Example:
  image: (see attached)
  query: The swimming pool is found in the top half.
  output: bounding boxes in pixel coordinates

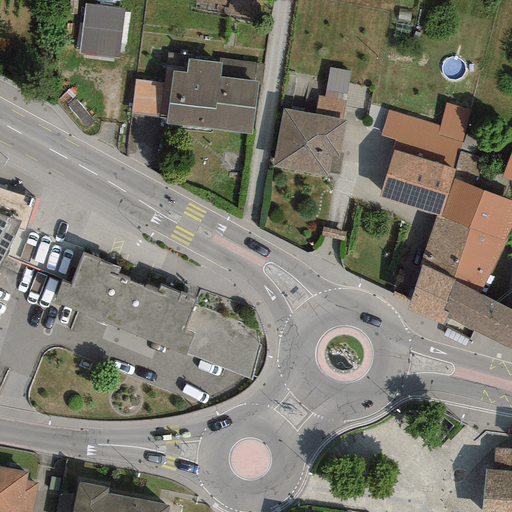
[442,51,467,80]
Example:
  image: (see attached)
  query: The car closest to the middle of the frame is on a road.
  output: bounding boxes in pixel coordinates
[245,238,269,254]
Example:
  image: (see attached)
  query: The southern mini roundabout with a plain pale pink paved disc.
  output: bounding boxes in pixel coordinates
[199,406,303,510]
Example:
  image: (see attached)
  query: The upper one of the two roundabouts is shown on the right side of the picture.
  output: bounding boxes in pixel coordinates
[292,302,396,406]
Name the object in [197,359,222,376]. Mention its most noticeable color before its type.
white vehicle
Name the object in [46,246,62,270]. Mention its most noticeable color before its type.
white vehicle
